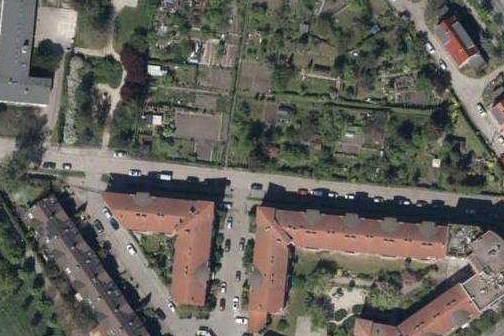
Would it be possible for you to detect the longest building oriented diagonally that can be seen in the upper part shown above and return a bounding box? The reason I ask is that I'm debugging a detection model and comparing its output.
[435,15,486,76]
